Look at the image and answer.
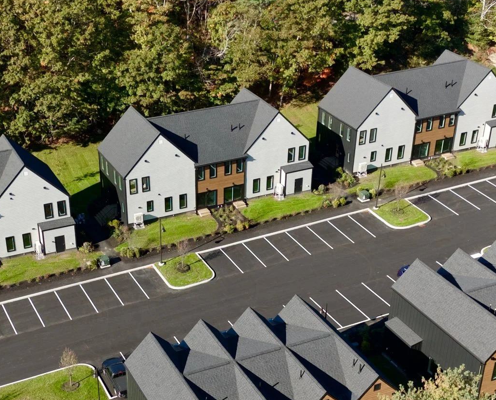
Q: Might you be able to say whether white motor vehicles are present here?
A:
No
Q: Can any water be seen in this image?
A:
No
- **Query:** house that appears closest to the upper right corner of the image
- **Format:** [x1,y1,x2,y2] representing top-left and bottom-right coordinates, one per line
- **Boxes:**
[315,51,496,173]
